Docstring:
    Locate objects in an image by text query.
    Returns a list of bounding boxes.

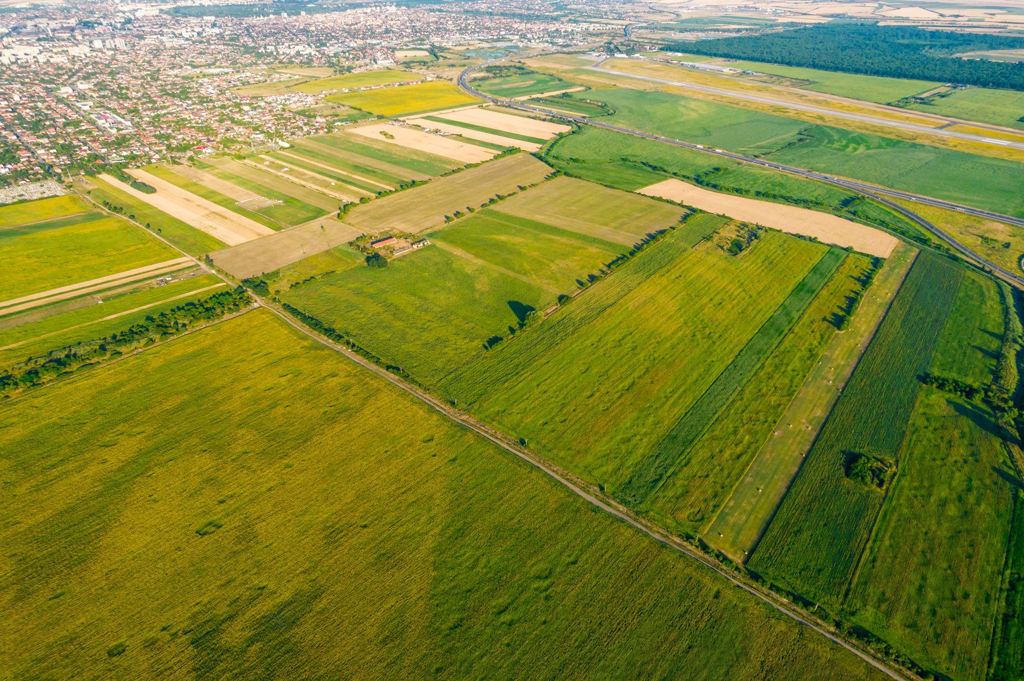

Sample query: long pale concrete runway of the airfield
[578,66,1024,149]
